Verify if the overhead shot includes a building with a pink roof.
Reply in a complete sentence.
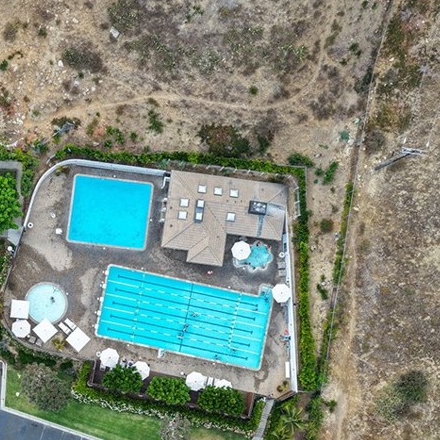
No, the frame has no building with a pink roof in it.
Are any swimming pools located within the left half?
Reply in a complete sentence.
Yes, a swimming pool is visible within the left half.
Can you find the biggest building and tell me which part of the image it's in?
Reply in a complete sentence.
The biggest building sits in the center section of the image.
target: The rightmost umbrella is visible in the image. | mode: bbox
[271,284,290,302]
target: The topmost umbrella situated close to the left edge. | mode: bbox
[11,300,29,318]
